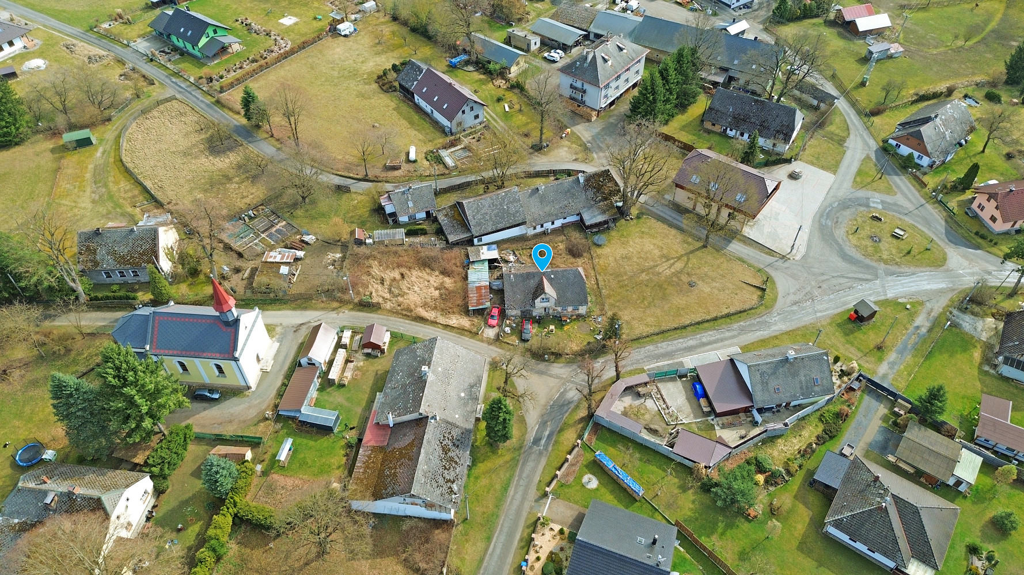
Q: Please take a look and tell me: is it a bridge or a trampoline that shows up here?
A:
trampoline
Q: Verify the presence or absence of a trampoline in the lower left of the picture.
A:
Yes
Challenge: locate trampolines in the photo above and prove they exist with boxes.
[590,231,610,248]
[4,433,46,470]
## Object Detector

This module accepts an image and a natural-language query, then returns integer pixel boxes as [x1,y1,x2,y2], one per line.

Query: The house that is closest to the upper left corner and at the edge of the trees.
[0,21,28,56]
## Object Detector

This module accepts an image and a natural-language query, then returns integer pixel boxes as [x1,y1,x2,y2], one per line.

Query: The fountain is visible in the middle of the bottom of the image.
[581,473,599,490]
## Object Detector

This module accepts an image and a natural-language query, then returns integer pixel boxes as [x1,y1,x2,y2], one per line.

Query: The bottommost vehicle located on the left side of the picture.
[190,386,222,401]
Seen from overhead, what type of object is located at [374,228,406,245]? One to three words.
greenhouse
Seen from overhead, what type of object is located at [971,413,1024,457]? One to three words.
building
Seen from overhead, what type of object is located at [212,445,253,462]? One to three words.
shed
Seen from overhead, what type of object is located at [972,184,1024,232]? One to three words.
house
